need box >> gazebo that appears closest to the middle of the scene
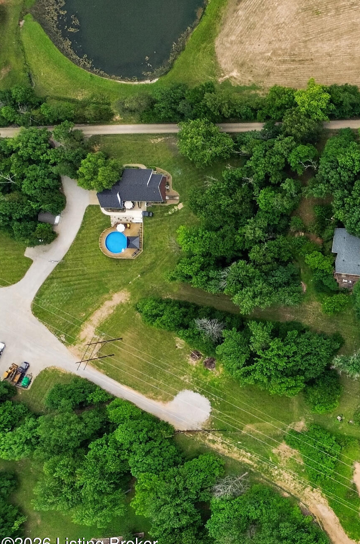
[127,236,143,249]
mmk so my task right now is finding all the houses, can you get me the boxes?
[333,228,360,276]
[97,169,166,208]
